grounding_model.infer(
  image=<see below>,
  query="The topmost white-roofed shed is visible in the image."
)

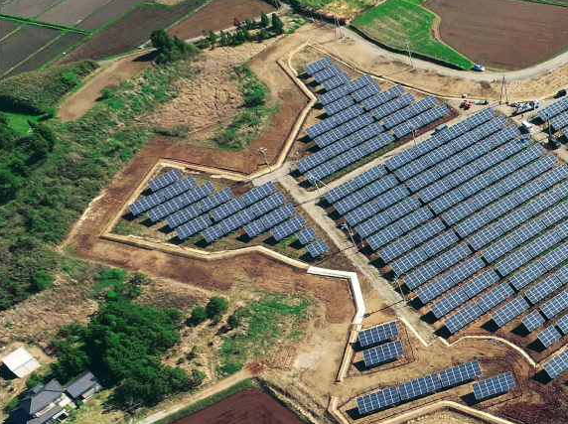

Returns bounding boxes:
[1,346,42,383]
